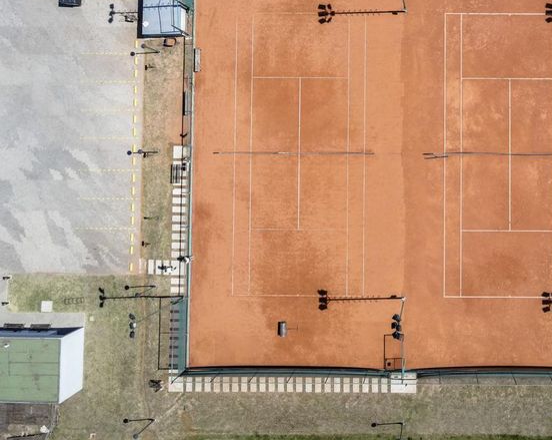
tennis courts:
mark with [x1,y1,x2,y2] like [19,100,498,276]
[404,0,552,369]
[187,0,404,369]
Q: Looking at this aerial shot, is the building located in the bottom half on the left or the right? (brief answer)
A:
left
